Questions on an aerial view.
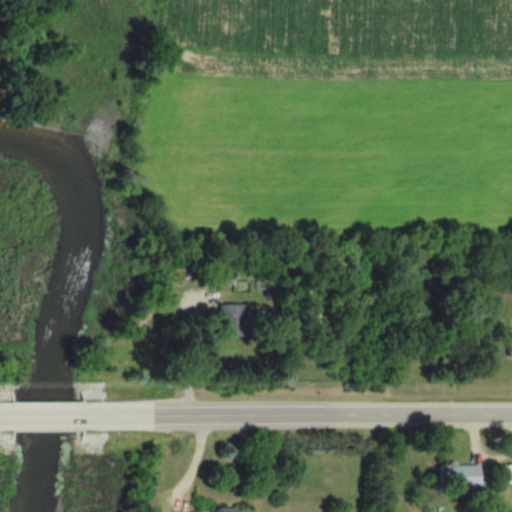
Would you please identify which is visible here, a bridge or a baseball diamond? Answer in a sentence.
Of the two, only a bridge appears.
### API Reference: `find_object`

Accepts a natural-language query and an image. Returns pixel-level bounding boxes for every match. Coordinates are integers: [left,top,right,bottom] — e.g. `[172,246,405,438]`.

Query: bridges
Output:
[6,388,88,445]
